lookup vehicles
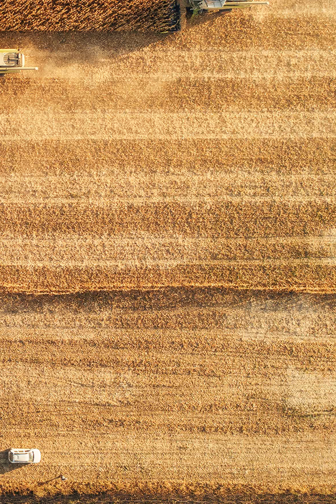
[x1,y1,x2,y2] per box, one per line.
[0,46,38,75]
[159,0,269,33]
[8,448,40,464]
